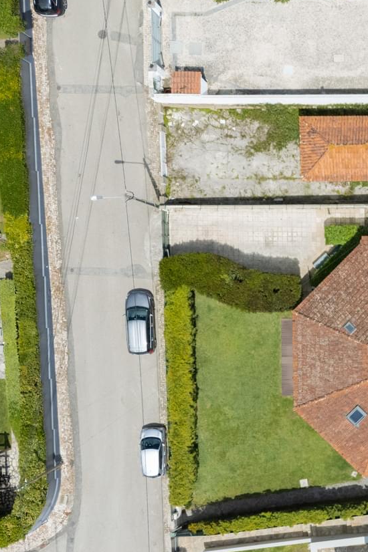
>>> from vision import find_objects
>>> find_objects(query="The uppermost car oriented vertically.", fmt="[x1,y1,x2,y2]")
[123,288,157,353]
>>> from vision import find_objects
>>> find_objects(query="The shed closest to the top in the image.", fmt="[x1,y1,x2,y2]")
[171,71,213,94]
